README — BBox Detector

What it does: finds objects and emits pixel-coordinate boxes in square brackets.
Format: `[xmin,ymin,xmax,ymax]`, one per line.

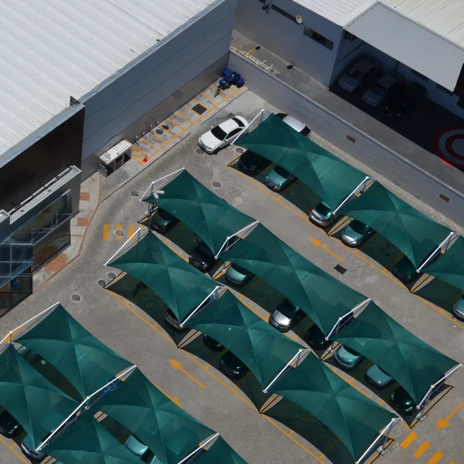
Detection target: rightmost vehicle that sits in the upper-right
[385,78,428,119]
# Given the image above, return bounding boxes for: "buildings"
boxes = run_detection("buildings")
[0,0,239,317]
[331,0,464,113]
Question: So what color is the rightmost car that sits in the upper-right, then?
black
